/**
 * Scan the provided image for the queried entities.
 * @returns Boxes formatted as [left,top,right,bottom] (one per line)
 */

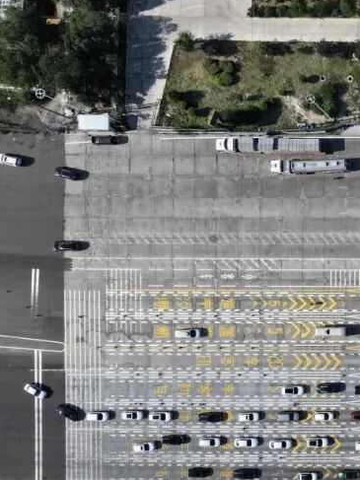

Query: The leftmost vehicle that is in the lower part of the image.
[25,382,49,399]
